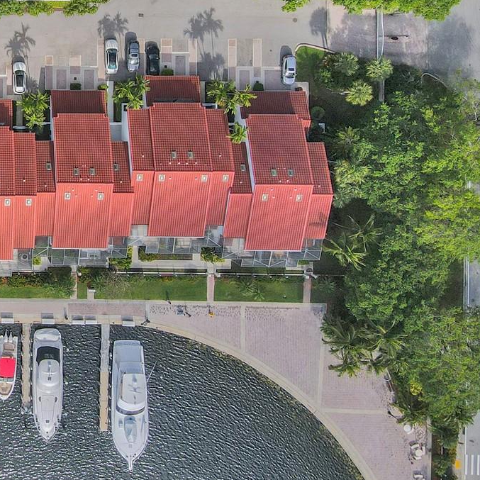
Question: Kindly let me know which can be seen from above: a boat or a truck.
boat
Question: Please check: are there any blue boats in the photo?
No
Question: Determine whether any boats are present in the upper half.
No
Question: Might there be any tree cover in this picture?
Yes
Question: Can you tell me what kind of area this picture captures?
residential area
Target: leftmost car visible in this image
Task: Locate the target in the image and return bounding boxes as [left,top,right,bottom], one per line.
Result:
[12,62,27,93]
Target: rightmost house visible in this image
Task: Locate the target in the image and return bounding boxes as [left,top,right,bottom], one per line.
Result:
[228,91,334,267]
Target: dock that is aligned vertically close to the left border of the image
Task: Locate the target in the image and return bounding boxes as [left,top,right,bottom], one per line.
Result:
[19,323,33,413]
